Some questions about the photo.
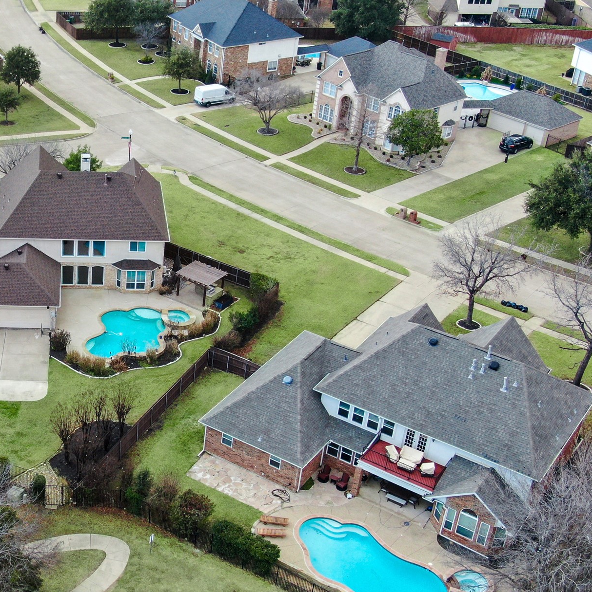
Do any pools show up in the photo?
Yes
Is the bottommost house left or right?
right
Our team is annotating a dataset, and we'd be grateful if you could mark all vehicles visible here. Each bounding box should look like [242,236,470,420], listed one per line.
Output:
[449,16,479,28]
[501,129,537,151]
[194,77,240,105]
